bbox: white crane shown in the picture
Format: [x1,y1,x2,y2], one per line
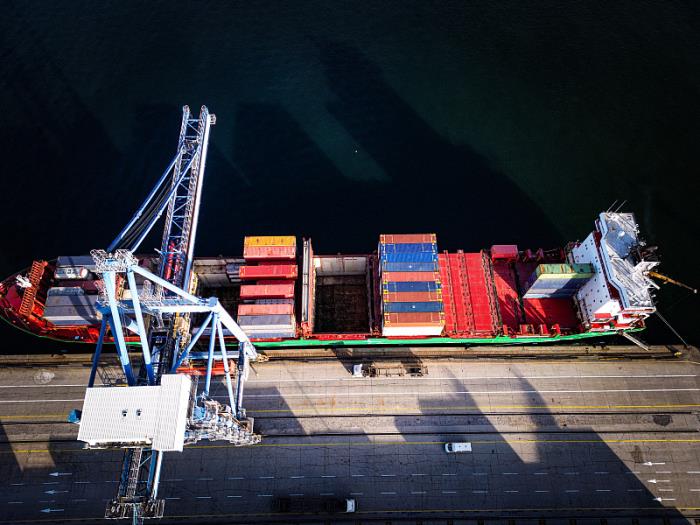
[67,105,269,525]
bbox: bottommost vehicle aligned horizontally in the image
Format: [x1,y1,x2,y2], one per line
[279,498,357,514]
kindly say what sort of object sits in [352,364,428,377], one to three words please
vehicle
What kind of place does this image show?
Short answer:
port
